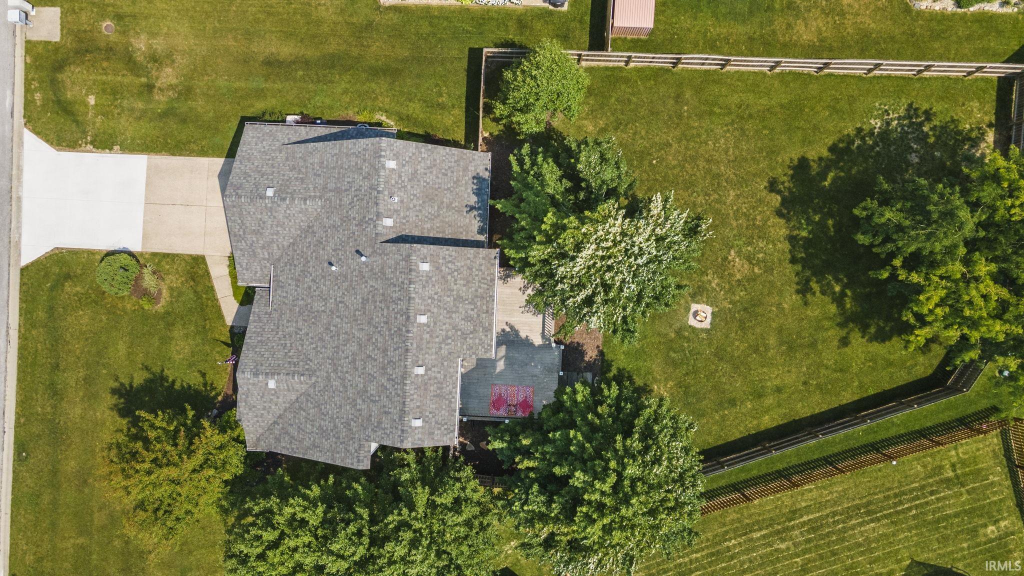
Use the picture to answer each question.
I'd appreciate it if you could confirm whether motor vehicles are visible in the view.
No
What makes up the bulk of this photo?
grass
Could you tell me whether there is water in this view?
No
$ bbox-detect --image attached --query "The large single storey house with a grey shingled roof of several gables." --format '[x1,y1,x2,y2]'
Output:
[222,122,500,470]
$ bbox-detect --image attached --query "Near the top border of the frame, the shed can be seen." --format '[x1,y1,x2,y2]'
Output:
[611,0,656,38]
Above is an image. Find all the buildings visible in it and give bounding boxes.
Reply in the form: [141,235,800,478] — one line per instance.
[611,0,656,38]
[222,122,500,470]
